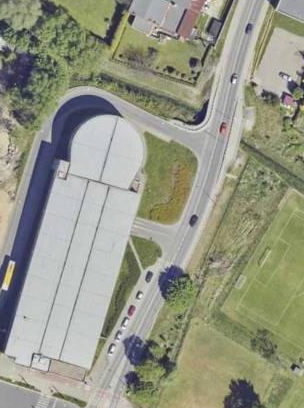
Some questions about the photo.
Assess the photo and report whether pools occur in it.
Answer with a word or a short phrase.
No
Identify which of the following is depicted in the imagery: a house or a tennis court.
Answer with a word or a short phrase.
house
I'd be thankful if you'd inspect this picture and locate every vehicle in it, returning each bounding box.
[189,214,197,226]
[245,22,252,33]
[127,306,136,316]
[107,343,116,354]
[135,290,143,301]
[2,261,16,290]
[114,330,122,341]
[221,122,228,133]
[120,317,128,328]
[145,271,153,282]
